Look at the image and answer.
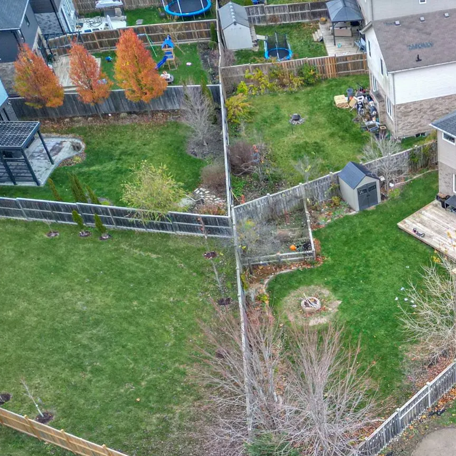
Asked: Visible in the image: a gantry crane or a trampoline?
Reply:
trampoline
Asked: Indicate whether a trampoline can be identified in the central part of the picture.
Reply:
No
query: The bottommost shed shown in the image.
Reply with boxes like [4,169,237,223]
[334,158,381,211]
